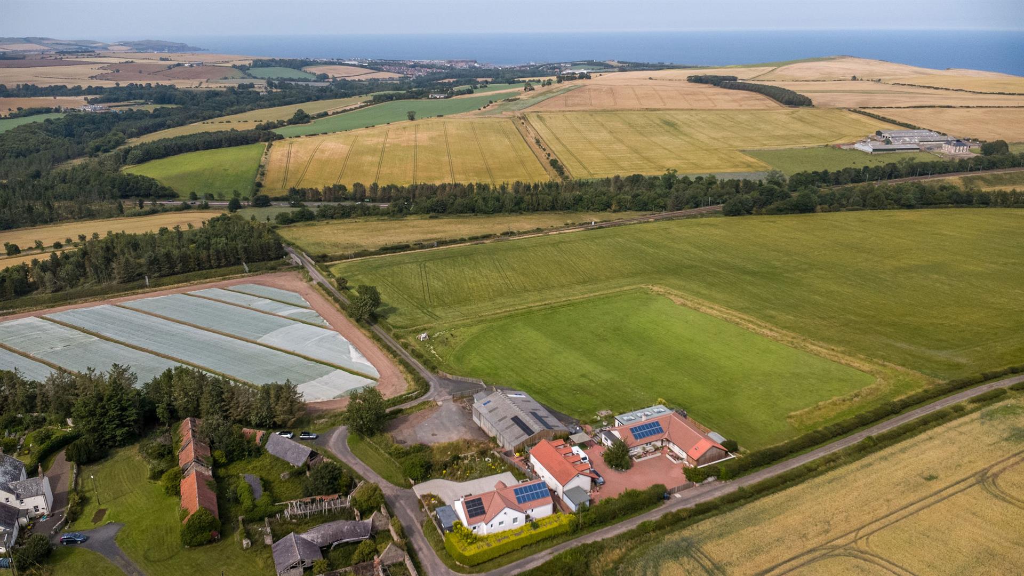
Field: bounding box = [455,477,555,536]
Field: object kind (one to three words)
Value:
house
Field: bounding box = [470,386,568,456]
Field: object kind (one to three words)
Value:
barn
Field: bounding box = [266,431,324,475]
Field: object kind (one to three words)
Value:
barn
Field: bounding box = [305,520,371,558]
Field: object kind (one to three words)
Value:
building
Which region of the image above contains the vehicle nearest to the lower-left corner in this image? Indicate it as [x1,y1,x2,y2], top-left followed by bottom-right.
[60,534,89,547]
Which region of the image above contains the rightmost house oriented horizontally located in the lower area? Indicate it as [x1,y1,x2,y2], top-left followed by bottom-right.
[589,405,729,468]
